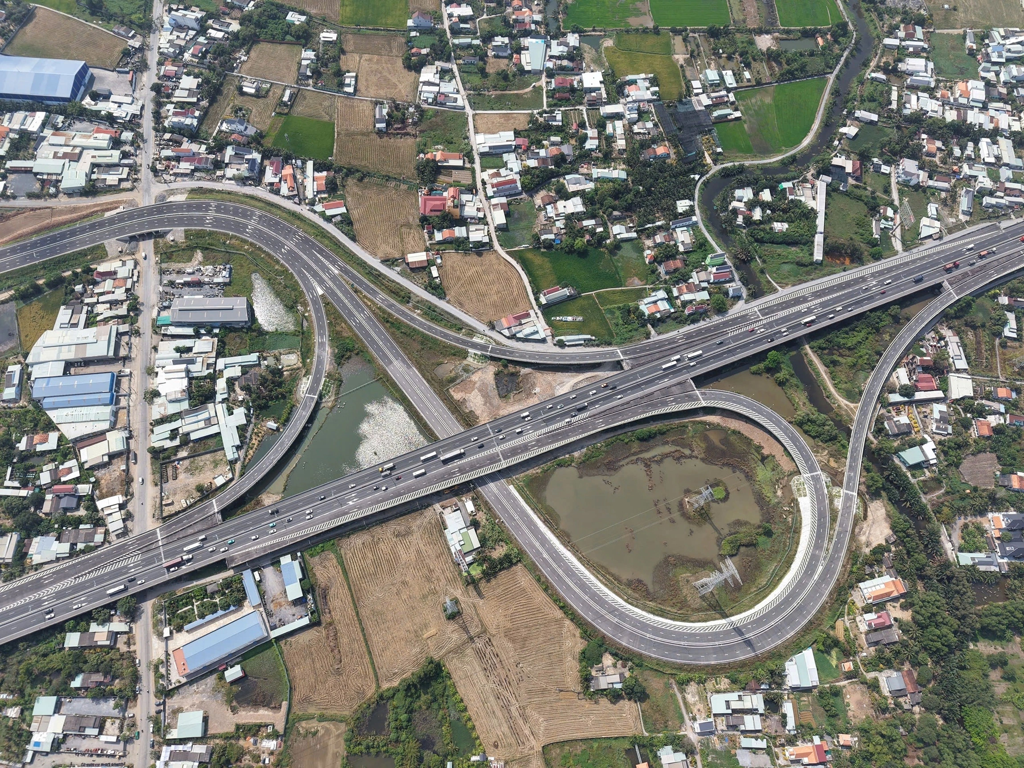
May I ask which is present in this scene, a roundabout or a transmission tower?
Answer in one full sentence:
The one in the frame is a transmission tower.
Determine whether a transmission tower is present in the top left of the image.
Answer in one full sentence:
No, no transmission tower appears in the top left of the image.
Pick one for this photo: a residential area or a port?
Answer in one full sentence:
The area seen from above is a residential area.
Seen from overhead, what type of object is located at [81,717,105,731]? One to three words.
house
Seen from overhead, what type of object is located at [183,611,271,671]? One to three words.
building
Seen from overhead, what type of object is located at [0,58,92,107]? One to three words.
building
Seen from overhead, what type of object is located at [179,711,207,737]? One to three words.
house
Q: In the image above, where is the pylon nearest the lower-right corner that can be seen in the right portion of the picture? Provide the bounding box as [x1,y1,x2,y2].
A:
[689,554,746,603]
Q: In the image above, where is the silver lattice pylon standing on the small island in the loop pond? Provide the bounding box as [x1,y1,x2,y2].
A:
[686,481,716,515]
